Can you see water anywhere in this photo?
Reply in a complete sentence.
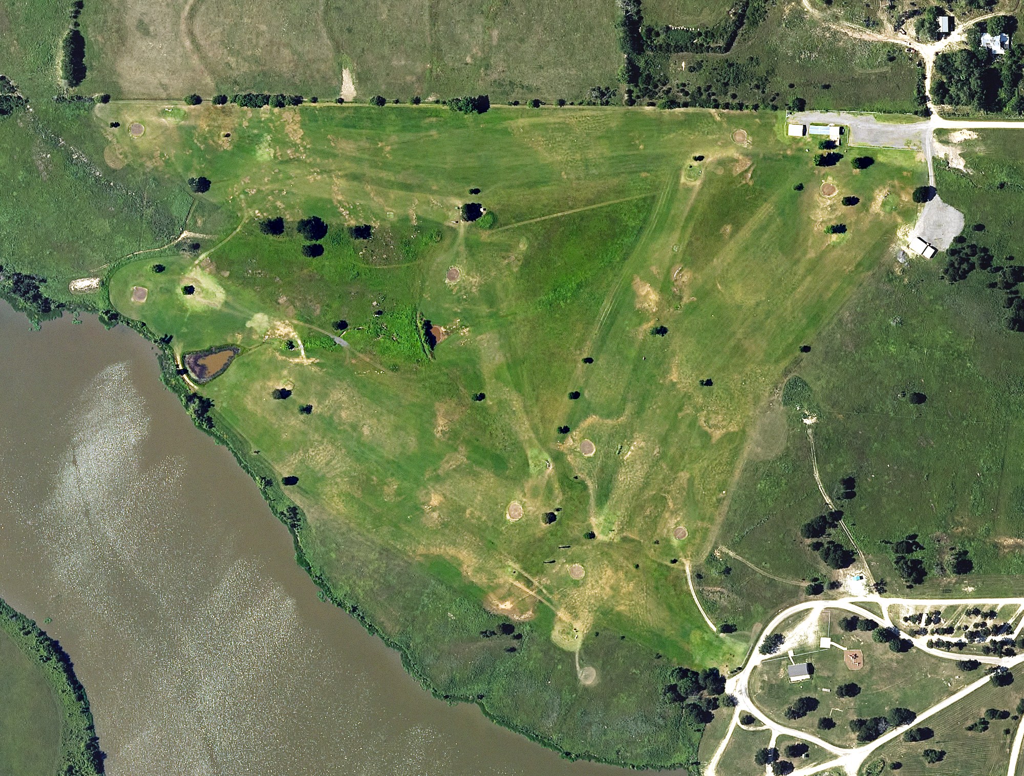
Yes, the picture does contain water.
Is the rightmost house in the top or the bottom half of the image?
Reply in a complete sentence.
The rightmost house is in the top half of the image.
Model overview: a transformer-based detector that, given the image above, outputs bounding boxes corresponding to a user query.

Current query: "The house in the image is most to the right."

[981,33,1011,56]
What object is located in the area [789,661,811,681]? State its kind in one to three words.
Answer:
building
